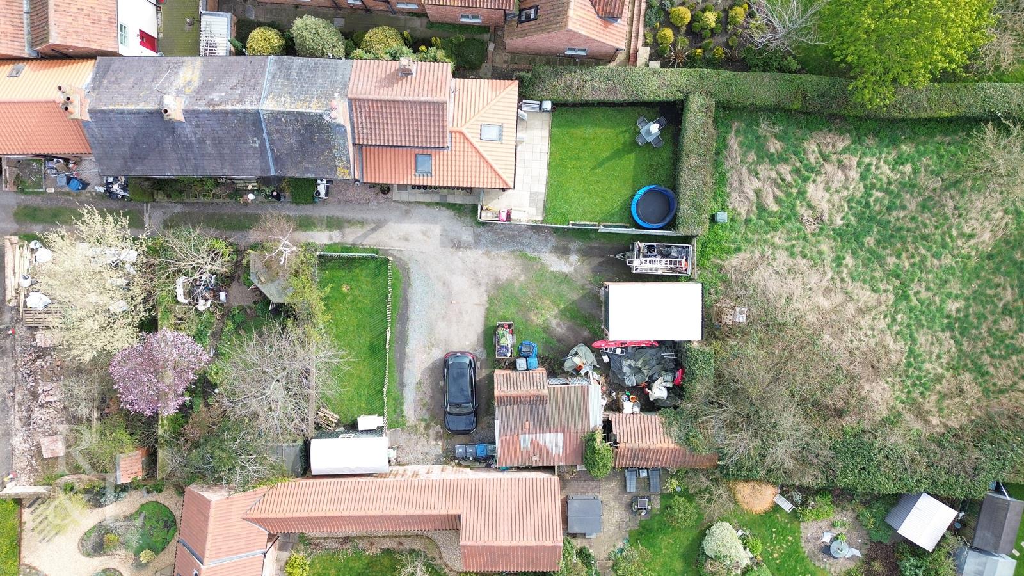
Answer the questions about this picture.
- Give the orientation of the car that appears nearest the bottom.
up and down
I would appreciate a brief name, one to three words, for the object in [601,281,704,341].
shed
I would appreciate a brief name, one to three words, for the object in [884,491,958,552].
shed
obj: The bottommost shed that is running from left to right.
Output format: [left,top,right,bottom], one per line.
[947,544,1017,576]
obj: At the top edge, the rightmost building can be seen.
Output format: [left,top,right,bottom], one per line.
[503,0,626,62]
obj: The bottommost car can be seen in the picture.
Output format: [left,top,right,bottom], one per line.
[438,353,481,436]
